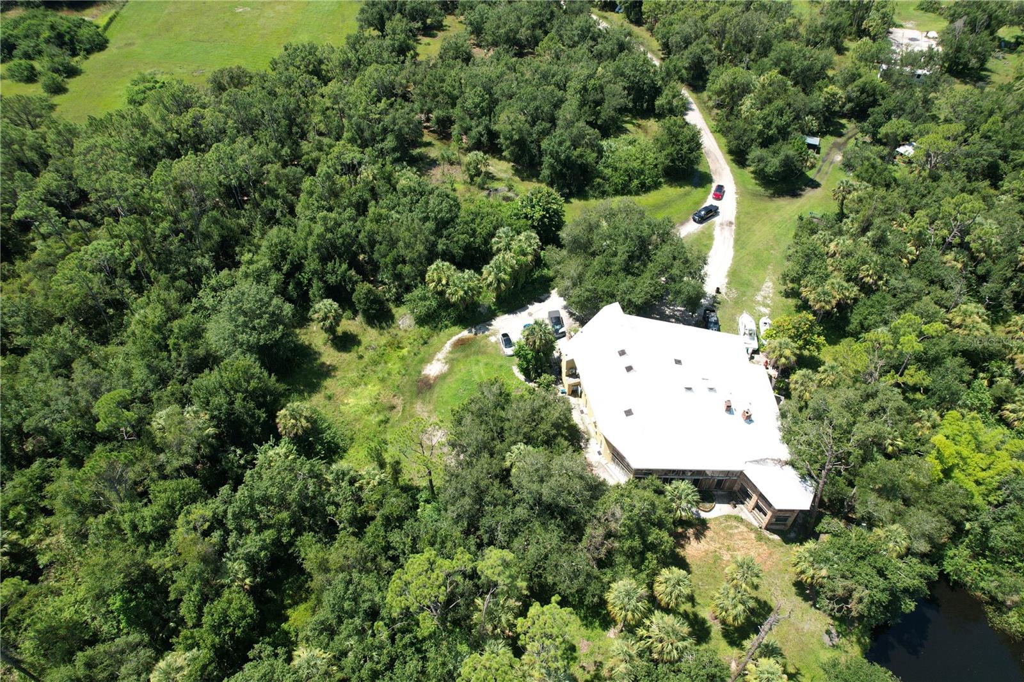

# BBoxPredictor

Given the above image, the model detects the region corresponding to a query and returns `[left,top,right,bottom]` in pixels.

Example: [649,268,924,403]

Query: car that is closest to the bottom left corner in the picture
[498,334,516,356]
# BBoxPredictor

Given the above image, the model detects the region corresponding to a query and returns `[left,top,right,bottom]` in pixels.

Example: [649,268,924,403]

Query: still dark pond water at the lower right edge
[866,575,1024,682]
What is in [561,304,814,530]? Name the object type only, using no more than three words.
house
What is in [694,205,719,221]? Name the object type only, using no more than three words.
vehicle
